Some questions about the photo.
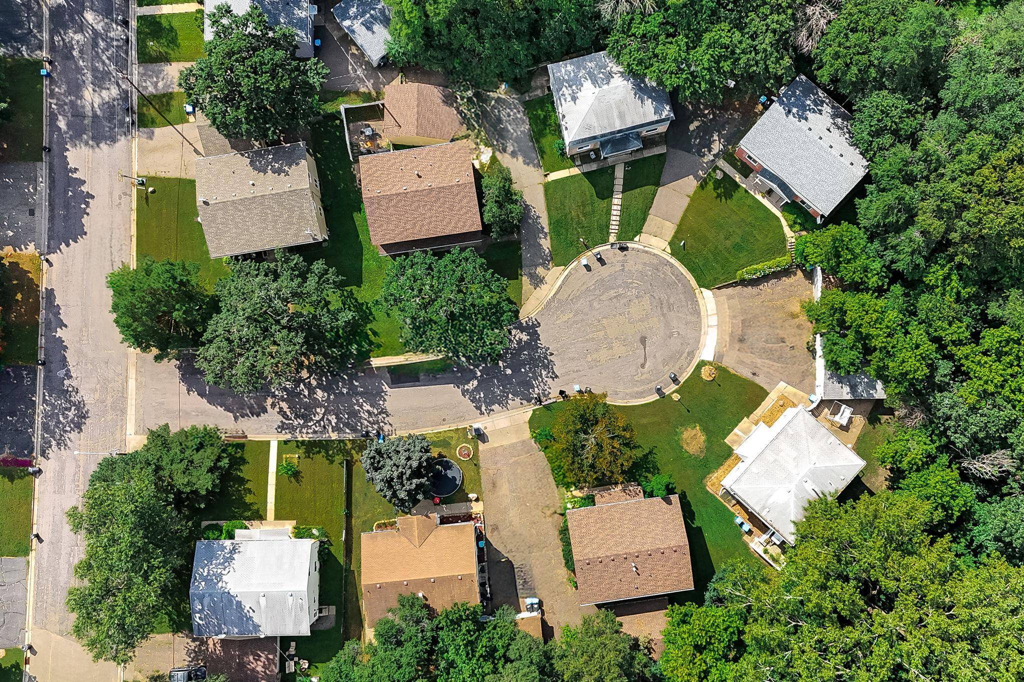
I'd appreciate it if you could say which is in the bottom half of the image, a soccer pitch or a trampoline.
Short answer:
trampoline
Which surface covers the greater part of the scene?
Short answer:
trees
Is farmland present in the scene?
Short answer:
No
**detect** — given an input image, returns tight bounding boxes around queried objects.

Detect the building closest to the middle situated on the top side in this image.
[359,139,483,261]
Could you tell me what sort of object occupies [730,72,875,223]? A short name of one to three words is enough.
house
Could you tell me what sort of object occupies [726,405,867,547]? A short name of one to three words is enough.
house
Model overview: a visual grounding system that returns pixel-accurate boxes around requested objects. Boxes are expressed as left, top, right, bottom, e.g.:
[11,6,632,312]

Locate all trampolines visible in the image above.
[427,459,464,496]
